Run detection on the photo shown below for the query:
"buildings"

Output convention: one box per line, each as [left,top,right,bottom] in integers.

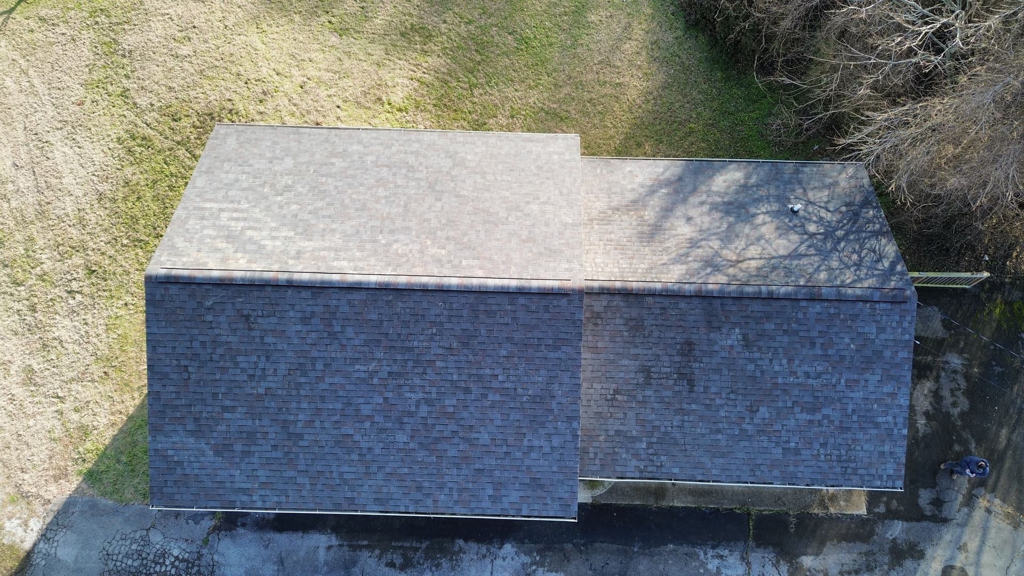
[145,122,918,523]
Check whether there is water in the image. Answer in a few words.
No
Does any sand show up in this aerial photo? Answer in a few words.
No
